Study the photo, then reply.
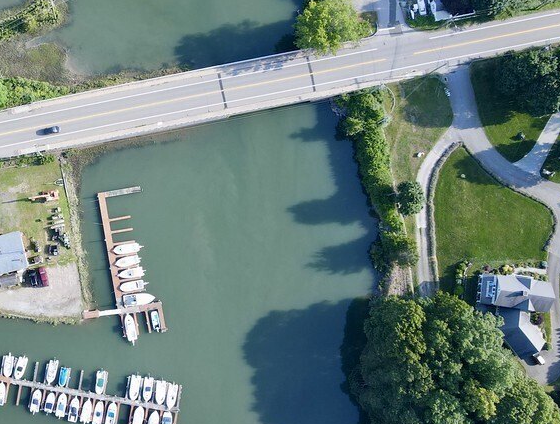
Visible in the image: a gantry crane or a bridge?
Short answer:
bridge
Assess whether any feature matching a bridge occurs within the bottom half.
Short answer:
No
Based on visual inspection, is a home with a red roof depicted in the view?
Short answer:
No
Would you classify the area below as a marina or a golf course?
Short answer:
marina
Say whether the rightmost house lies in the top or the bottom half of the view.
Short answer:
bottom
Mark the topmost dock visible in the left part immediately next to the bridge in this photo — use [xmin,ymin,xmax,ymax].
[81,186,168,339]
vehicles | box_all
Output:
[29,270,37,288]
[417,0,427,16]
[45,246,58,254]
[534,354,546,365]
[45,127,60,135]
[39,266,49,287]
